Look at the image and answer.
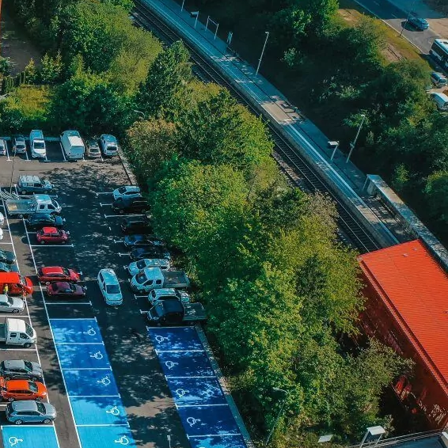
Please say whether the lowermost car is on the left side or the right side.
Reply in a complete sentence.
You can find the lowermost car on the left side of the picture.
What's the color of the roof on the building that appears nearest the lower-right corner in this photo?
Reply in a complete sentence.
From above, the roof of the building that appears nearest the lower-right corner looks red.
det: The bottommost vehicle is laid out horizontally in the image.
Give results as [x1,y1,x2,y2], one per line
[3,398,57,424]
